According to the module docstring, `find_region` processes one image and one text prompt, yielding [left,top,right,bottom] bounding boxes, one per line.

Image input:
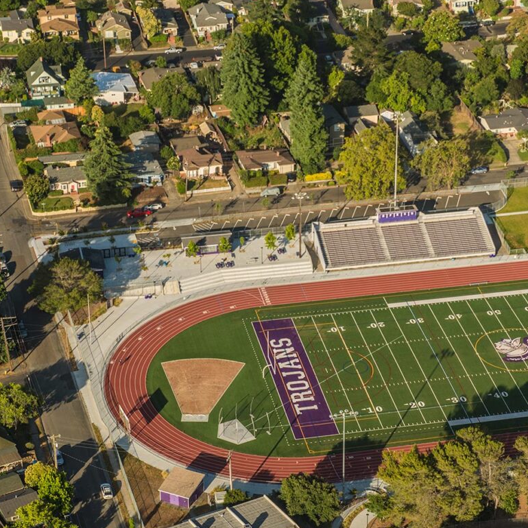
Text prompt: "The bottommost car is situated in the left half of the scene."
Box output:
[100,482,114,499]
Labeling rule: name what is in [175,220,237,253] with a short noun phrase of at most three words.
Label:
shed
